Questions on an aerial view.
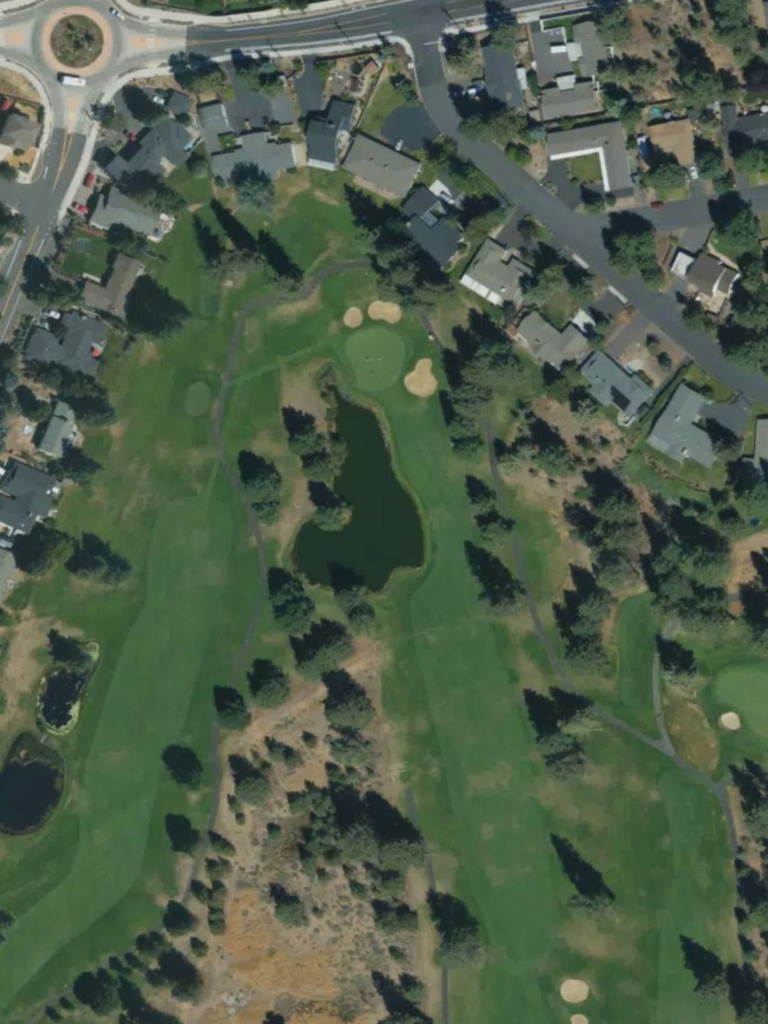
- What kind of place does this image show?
golf course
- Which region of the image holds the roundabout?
top left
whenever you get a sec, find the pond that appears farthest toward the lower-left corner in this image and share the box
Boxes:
[0,762,61,831]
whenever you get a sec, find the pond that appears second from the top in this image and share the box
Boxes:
[43,670,88,727]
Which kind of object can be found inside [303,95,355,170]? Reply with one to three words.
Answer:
house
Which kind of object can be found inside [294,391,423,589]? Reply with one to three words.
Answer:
pond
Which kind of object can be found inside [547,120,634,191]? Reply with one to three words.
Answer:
house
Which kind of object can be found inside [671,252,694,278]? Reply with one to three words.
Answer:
building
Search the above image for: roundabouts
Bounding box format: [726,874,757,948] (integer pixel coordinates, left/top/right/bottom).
[0,0,186,133]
